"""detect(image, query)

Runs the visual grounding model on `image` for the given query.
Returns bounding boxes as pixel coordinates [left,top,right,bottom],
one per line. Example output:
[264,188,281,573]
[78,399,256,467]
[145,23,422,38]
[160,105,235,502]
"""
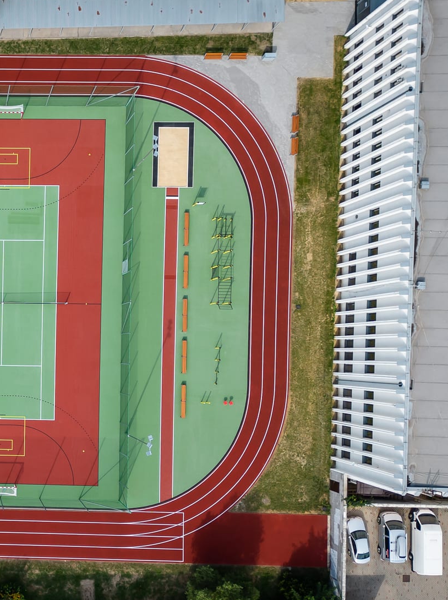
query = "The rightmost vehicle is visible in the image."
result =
[406,510,442,576]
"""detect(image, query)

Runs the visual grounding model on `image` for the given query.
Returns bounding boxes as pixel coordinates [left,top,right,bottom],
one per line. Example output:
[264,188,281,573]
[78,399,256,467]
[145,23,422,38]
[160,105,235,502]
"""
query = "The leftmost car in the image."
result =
[347,518,368,563]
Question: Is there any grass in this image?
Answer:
Yes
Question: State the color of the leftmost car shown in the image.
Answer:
white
